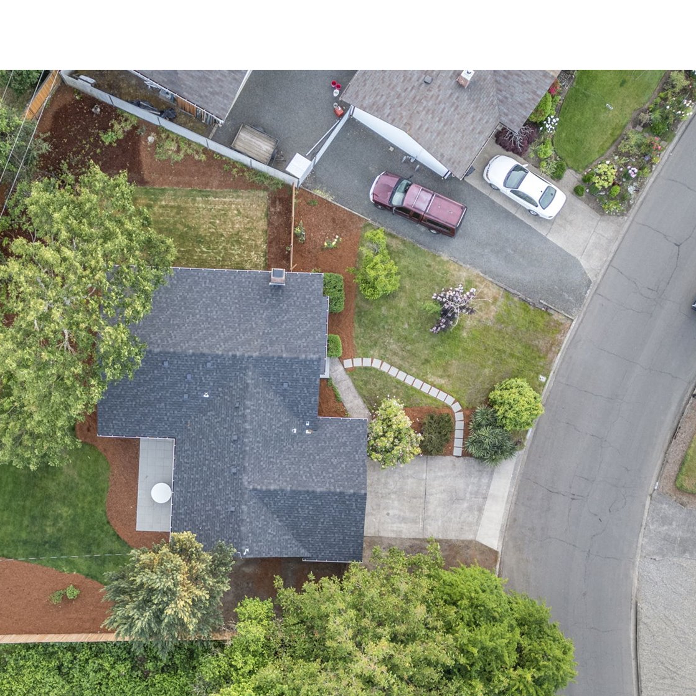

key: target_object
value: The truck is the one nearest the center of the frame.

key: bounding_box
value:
[361,167,474,242]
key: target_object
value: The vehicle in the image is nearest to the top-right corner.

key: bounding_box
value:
[478,151,575,223]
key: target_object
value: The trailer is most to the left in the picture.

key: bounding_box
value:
[230,121,286,162]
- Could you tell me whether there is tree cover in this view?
Yes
